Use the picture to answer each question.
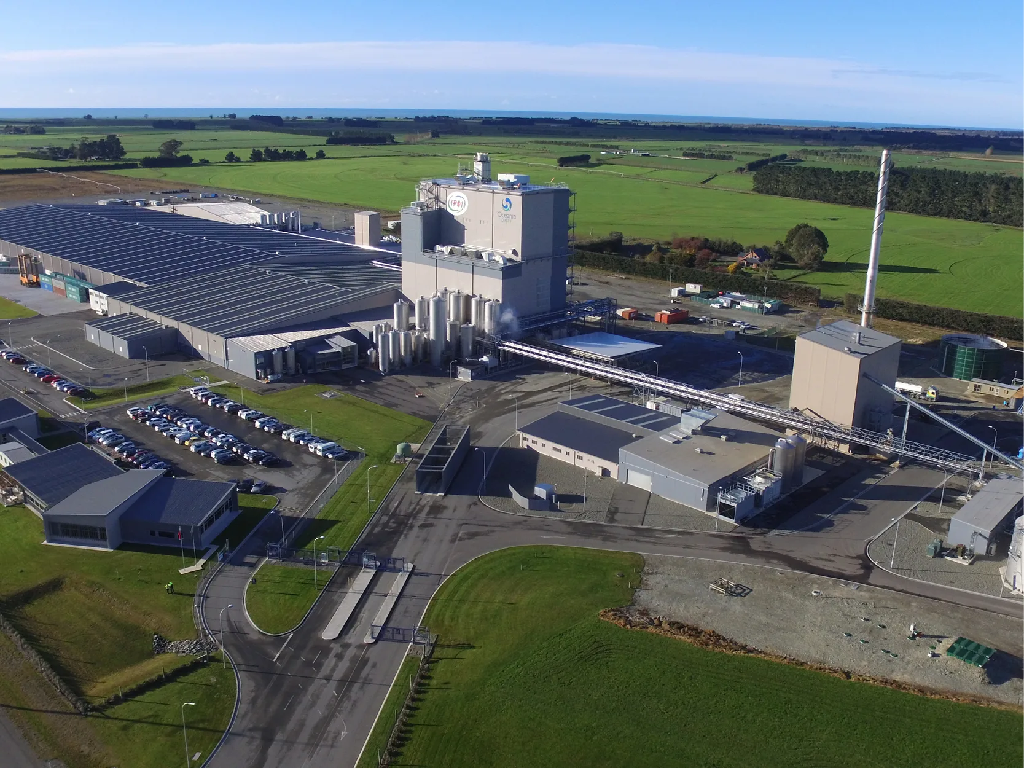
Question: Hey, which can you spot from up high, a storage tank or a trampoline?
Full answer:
I can see a storage tank in this picture.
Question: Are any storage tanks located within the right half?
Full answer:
Yes, there is a storage tank within the right half.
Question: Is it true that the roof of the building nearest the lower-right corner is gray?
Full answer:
Yes, the roof of the building nearest the lower-right corner is gray.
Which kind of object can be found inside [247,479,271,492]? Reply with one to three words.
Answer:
vehicle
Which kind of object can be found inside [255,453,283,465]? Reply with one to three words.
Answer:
vehicle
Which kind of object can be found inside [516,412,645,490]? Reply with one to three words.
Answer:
building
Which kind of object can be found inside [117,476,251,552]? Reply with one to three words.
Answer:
building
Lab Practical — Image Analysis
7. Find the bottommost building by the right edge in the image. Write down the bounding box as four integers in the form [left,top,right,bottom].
[944,470,1024,556]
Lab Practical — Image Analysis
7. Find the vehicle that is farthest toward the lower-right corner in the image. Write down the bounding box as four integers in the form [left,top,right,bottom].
[899,382,950,400]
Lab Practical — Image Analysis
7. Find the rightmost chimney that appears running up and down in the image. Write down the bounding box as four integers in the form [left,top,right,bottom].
[861,149,898,331]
